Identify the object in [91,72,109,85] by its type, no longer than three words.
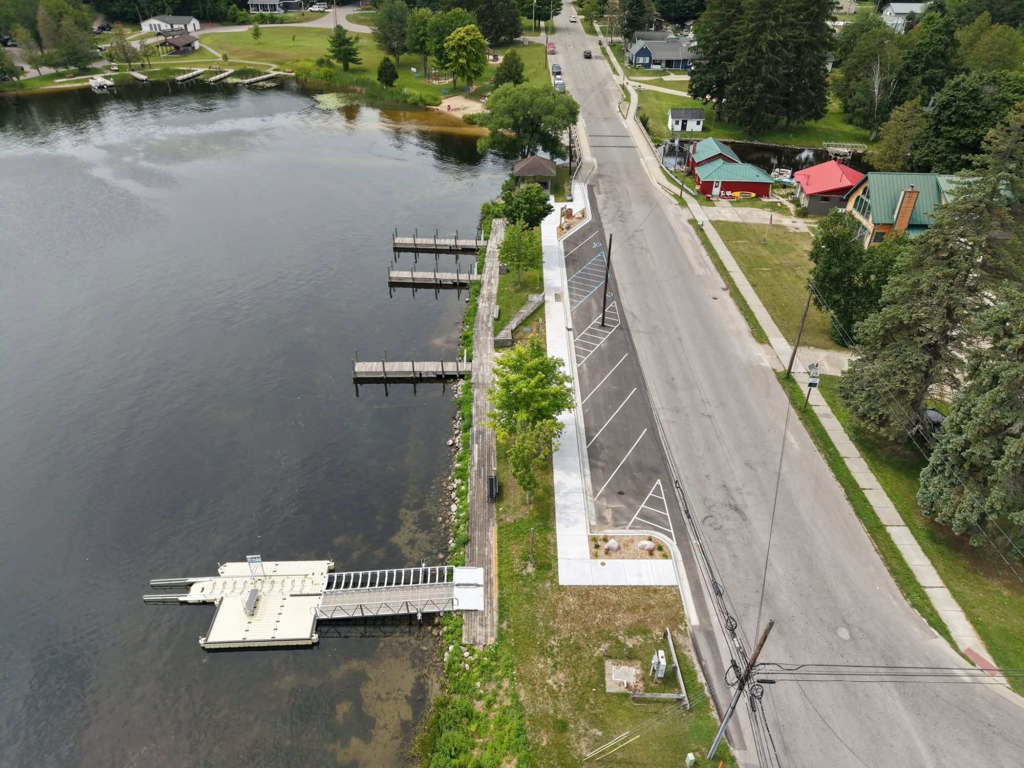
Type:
boat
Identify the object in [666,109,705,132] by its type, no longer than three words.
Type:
shed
